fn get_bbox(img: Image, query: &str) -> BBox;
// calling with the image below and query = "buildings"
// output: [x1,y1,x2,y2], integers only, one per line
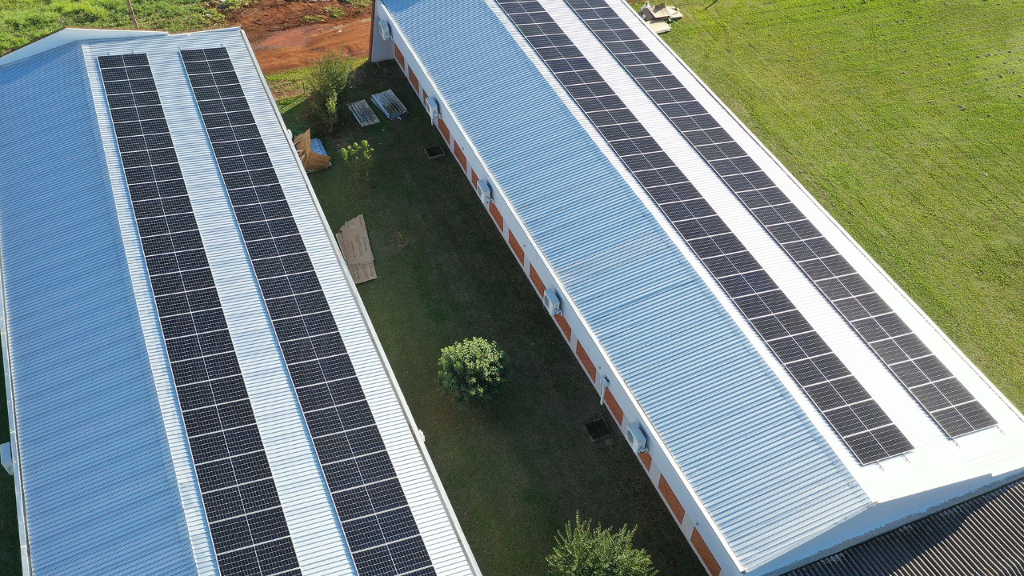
[370,0,1024,576]
[0,25,482,576]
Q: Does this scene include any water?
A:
No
